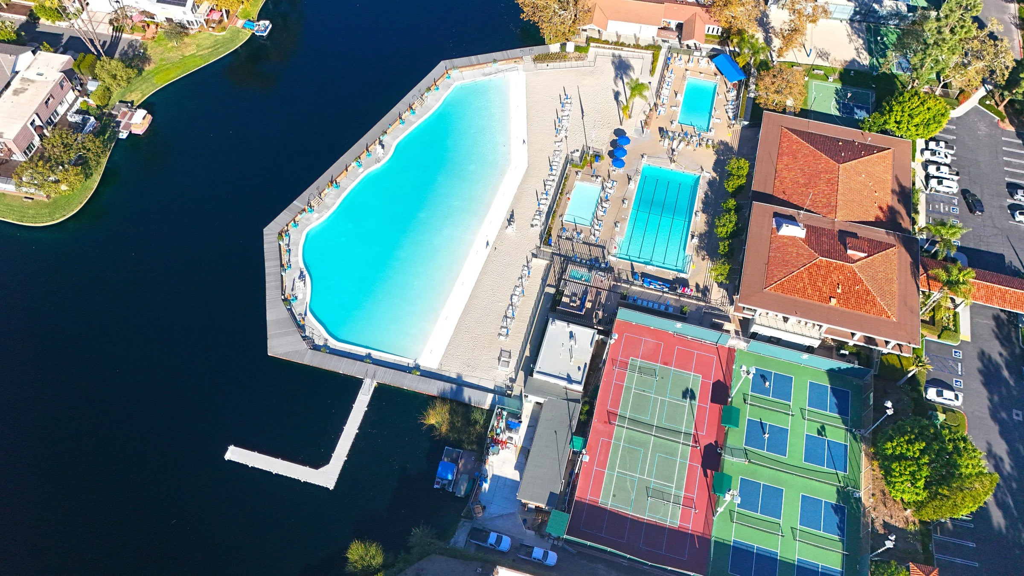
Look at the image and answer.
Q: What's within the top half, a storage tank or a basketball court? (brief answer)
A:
basketball court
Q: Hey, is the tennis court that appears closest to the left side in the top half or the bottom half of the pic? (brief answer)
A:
bottom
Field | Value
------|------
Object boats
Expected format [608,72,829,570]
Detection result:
[250,20,277,36]
[456,474,468,497]
[130,109,153,134]
[433,445,462,492]
[465,479,473,496]
[119,130,130,139]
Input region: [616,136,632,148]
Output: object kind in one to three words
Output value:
umbrella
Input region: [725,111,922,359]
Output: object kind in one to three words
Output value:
building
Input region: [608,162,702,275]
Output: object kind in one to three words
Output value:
swimming pool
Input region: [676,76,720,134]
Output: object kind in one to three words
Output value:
swimming pool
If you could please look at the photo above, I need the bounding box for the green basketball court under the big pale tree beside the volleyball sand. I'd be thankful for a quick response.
[865,23,940,80]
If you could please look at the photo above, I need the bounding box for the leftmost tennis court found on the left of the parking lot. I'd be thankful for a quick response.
[570,320,736,576]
